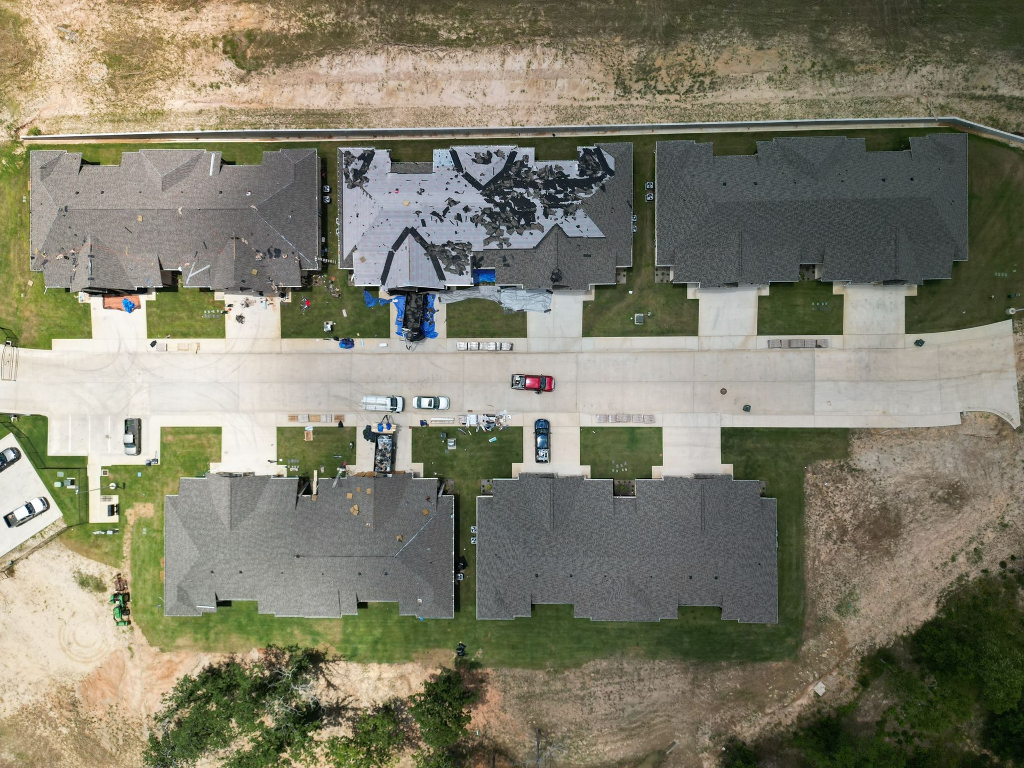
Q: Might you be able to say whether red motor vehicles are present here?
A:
Yes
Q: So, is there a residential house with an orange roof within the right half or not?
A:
No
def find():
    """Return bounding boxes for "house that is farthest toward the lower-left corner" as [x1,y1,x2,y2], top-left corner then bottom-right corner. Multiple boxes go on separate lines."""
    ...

[164,473,454,618]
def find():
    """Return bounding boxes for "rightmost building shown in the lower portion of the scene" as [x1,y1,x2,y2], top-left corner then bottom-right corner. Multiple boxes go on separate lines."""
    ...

[476,475,778,623]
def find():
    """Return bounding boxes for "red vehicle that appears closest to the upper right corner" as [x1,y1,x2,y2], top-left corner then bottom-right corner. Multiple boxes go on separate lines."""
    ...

[510,375,555,391]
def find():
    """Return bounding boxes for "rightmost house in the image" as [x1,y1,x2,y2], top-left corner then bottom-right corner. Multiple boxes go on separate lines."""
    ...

[655,133,969,288]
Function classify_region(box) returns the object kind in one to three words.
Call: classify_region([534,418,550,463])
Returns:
vehicle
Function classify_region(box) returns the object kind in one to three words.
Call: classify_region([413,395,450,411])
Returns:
car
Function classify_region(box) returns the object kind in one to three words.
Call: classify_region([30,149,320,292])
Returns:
house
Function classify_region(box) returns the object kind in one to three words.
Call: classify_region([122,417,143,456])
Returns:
truck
